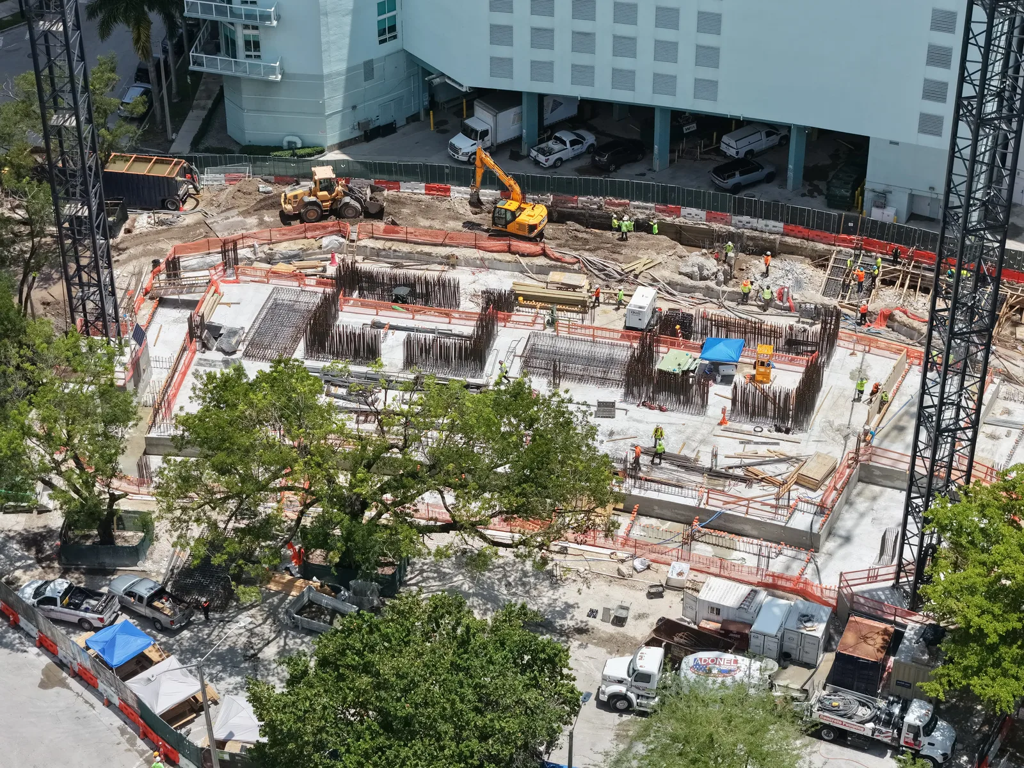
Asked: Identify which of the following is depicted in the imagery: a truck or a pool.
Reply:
truck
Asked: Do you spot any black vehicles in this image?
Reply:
Yes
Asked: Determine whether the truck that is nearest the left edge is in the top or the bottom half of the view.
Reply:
bottom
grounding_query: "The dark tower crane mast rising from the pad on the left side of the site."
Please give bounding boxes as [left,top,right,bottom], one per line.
[24,0,129,347]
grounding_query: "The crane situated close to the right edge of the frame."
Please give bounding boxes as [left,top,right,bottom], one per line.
[886,0,1024,613]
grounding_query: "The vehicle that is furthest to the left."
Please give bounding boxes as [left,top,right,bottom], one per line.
[12,568,120,631]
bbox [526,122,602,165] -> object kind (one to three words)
truck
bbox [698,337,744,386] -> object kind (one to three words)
tent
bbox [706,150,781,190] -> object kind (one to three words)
car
